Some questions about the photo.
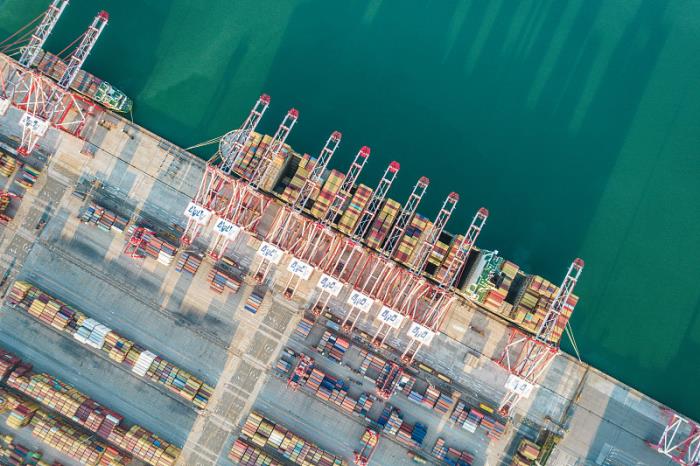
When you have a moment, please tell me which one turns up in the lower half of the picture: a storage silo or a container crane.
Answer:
container crane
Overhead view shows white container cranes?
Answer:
Yes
